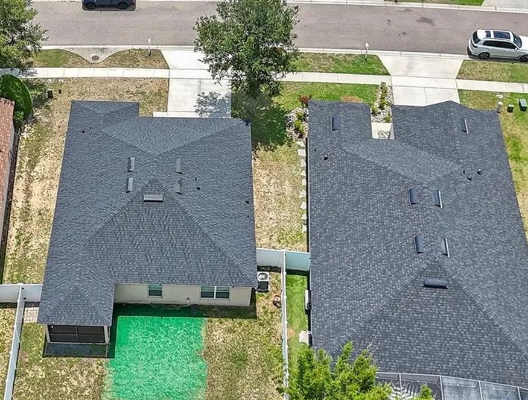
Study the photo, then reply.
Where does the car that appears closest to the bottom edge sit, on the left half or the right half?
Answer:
right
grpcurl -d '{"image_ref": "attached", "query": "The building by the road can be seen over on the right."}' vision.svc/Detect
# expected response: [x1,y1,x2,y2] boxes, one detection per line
[309,99,528,400]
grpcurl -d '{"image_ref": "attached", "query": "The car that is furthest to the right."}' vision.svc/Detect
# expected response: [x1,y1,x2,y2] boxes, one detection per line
[473,32,528,64]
